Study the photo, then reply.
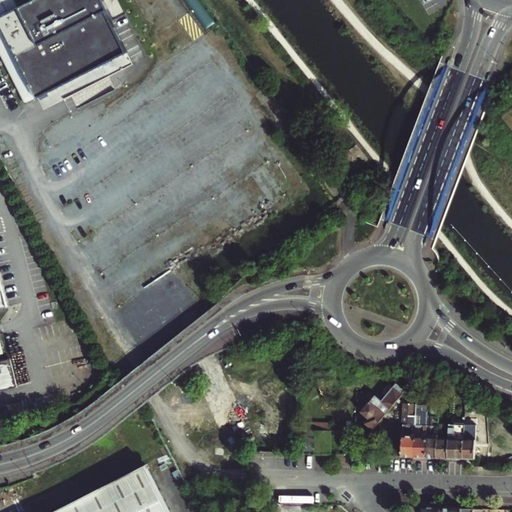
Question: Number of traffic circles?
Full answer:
I count 1 traffic circle.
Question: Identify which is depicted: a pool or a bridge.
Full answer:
Looking from above, you can make out a bridge.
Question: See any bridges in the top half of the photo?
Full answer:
Yes, I can see a bridge in the top half of the photo.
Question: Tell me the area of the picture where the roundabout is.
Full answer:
The roundabout is in the right part of the image.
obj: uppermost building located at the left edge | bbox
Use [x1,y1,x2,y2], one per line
[0,0,130,110]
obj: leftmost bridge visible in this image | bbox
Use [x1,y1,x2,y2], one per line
[0,308,234,485]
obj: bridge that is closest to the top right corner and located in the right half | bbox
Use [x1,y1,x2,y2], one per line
[376,50,496,254]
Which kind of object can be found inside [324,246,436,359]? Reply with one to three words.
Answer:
roundabout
